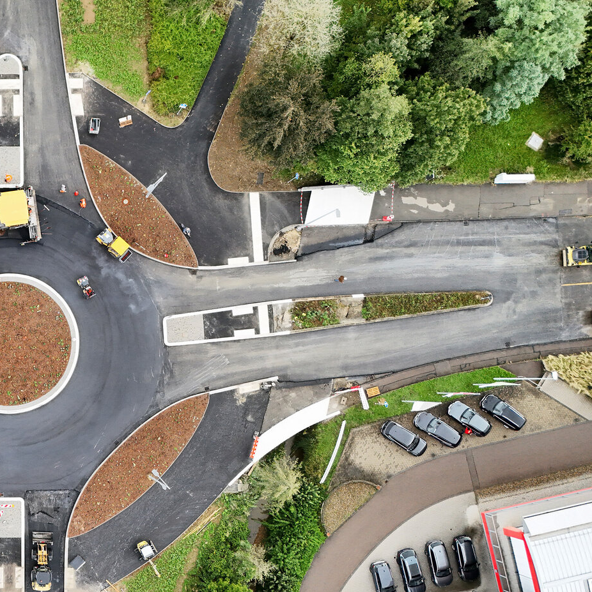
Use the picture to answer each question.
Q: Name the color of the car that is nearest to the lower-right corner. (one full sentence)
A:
From above, the car that is nearest to the lower-right corner appears black.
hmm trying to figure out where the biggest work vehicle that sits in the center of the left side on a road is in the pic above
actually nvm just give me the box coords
[93,225,139,267]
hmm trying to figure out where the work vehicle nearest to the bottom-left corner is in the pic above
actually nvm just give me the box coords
[31,536,54,592]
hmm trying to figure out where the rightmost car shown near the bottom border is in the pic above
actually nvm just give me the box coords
[452,532,483,581]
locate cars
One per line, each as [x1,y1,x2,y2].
[442,399,496,440]
[379,418,425,458]
[422,537,454,587]
[477,392,531,434]
[394,545,427,592]
[368,557,399,592]
[452,532,483,581]
[410,412,465,452]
